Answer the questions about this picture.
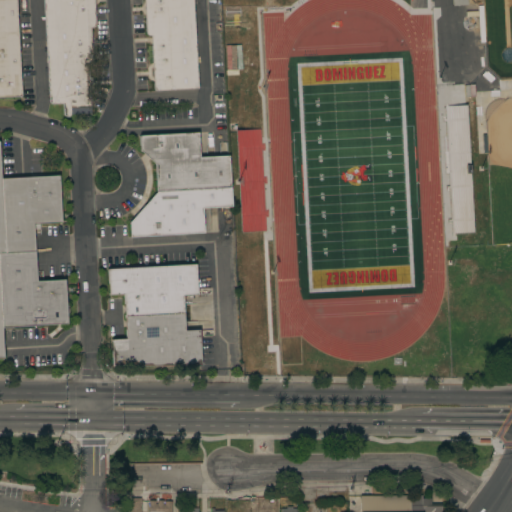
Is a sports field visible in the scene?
Yes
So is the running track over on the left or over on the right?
right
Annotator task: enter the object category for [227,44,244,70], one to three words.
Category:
shed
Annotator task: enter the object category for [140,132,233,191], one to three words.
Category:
building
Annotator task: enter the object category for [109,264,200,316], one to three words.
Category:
building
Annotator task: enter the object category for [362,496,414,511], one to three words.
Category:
house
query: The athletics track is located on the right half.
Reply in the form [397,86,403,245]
[264,0,446,362]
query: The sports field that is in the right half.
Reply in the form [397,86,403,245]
[289,51,423,298]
